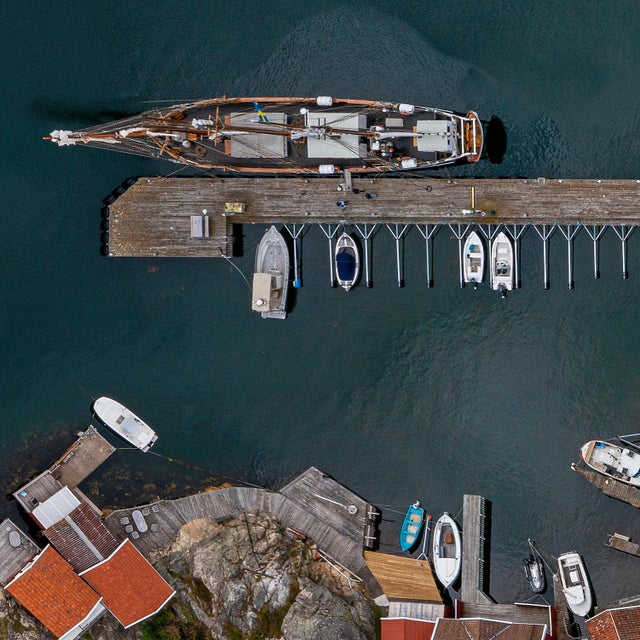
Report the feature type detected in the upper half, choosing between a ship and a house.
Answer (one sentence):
Visible in the upper half is a ship.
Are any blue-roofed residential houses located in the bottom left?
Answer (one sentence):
No, I see no blue-roofed residential house in the bottom left.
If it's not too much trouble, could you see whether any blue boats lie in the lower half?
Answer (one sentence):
Yes, in the lower half there is a blue boat.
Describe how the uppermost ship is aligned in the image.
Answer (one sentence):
What the image shows is the uppermost ship lying horizontally.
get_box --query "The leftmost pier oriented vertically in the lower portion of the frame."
[459,495,496,604]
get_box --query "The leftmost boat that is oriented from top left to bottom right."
[94,395,159,452]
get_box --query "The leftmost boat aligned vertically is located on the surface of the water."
[253,224,292,318]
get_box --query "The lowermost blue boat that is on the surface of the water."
[399,500,424,551]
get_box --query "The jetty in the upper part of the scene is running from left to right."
[109,178,640,257]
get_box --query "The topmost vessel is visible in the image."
[44,96,484,174]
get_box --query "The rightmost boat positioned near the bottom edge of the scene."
[558,549,593,618]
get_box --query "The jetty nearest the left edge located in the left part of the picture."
[50,426,116,489]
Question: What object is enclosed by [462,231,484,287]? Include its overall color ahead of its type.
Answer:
white boat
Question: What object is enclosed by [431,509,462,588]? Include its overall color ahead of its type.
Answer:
white boat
